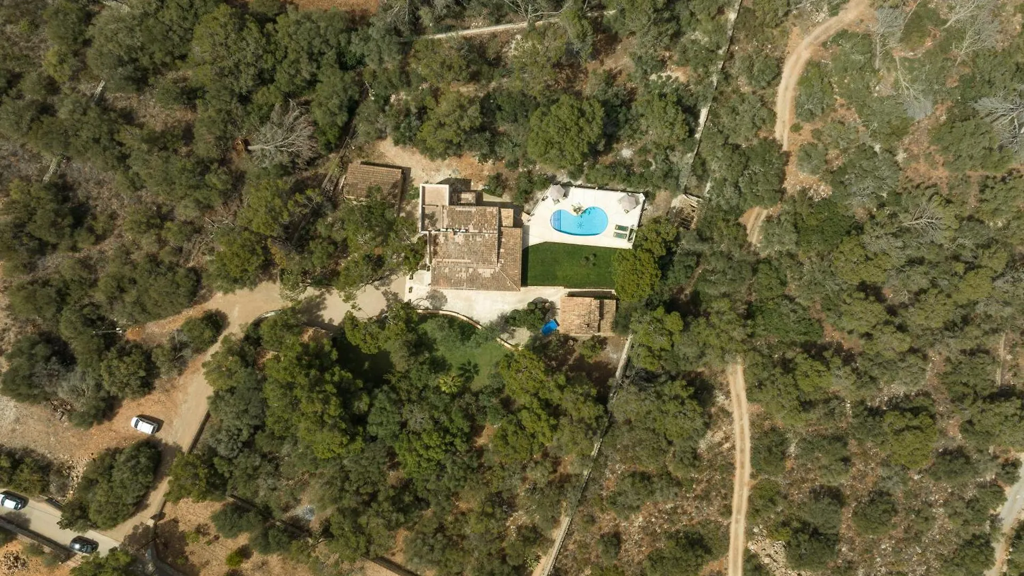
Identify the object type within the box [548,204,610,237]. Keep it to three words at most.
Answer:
swimming pool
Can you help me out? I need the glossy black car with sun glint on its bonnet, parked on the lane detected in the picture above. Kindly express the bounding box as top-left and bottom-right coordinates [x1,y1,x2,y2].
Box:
[70,534,100,553]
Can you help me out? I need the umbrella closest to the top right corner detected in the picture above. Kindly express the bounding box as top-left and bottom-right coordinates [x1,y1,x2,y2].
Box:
[619,193,638,211]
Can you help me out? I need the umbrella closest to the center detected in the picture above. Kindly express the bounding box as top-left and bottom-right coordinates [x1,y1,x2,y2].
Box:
[548,183,565,201]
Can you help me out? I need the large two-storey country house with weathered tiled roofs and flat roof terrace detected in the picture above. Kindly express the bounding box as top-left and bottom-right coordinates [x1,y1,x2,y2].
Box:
[420,184,523,292]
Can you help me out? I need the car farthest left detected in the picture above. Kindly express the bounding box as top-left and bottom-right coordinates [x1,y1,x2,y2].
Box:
[0,491,26,511]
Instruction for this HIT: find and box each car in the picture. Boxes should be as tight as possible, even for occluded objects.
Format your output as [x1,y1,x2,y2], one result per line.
[0,491,26,511]
[130,415,160,435]
[70,534,100,553]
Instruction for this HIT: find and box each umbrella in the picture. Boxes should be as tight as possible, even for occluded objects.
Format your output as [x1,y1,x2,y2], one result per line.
[548,183,565,201]
[619,193,638,211]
